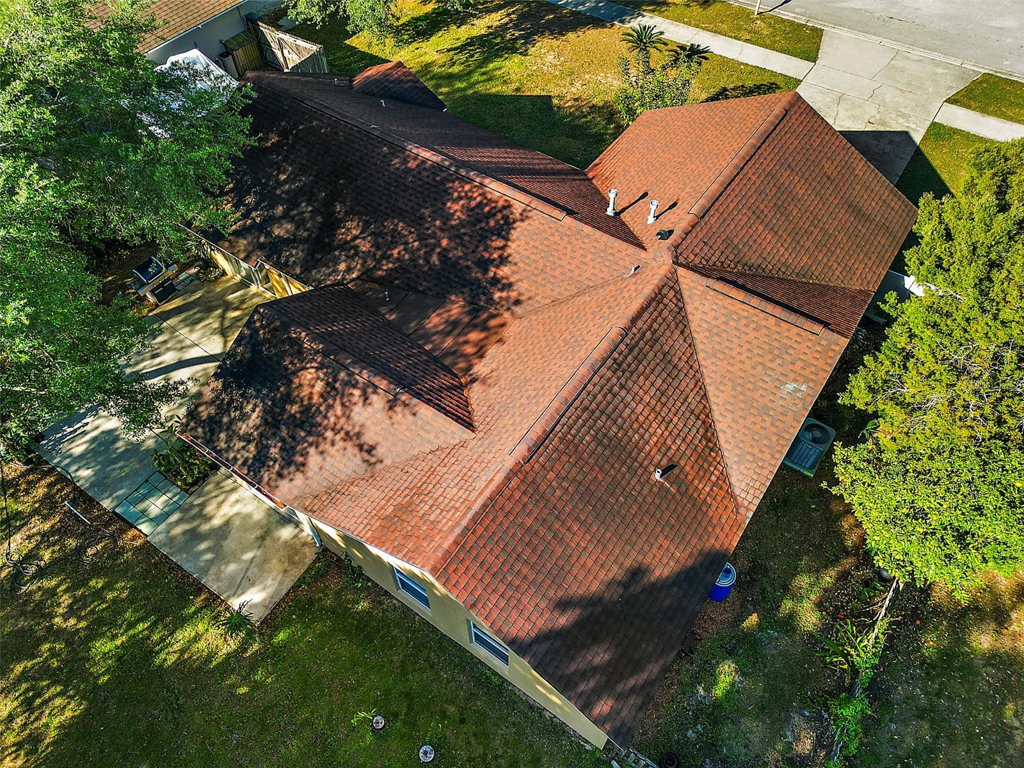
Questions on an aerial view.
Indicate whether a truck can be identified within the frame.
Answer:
No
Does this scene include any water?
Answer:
No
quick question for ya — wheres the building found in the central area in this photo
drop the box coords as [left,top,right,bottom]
[157,59,916,749]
